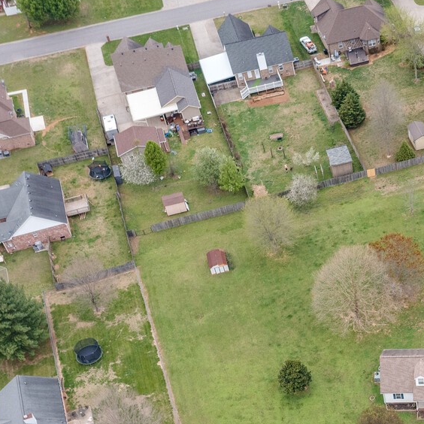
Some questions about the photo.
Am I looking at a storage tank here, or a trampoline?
trampoline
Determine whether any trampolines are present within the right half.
No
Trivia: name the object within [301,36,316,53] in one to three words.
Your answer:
vehicle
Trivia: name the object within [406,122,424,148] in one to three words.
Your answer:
shed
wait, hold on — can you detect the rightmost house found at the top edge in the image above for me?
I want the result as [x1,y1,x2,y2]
[309,0,390,56]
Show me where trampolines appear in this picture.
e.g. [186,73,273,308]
[72,337,102,365]
[86,157,110,180]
